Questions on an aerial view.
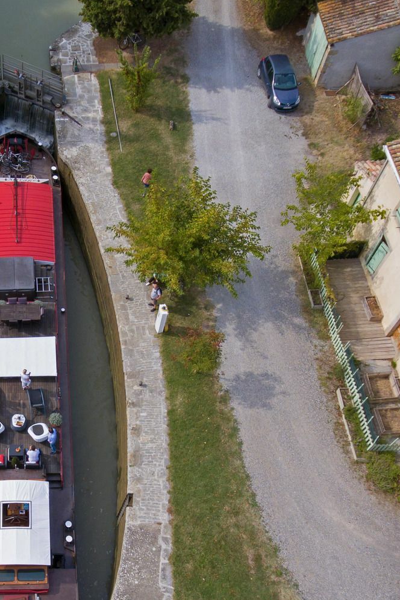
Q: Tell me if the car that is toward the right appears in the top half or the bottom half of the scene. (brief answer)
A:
top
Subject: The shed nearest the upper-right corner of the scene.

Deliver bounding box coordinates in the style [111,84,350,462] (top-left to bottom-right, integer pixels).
[307,0,400,86]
